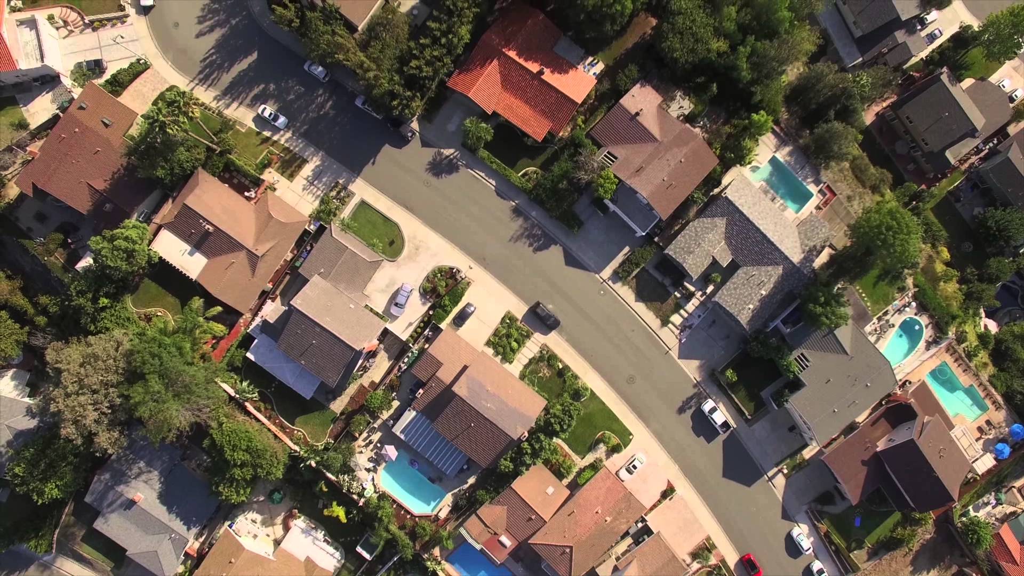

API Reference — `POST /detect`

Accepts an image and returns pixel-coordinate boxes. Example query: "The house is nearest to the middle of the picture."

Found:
[393,326,545,475]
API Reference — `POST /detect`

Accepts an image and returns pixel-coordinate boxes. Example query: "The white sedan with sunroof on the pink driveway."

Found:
[616,451,648,483]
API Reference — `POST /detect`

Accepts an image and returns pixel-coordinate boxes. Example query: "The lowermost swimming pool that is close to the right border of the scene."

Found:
[925,359,993,425]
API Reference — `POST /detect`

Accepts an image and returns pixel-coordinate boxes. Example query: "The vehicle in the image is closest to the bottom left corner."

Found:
[390,280,413,318]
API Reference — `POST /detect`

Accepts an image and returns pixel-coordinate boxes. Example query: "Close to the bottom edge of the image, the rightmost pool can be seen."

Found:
[444,535,514,576]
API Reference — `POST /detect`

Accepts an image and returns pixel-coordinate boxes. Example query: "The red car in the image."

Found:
[739,551,763,576]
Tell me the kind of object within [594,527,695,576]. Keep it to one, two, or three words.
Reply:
house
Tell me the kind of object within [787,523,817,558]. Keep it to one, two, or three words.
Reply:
car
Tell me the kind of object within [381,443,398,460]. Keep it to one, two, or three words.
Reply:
umbrella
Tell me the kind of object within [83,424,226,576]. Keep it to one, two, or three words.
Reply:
house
